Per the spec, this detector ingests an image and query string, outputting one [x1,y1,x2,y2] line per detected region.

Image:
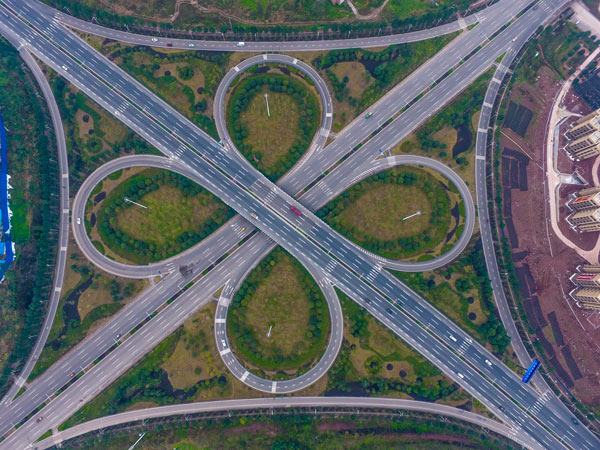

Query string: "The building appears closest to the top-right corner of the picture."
[562,111,600,162]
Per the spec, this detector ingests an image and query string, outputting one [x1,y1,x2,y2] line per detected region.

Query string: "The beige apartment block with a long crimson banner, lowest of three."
[568,262,600,311]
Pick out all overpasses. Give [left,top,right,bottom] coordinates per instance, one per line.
[233,175,315,253]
